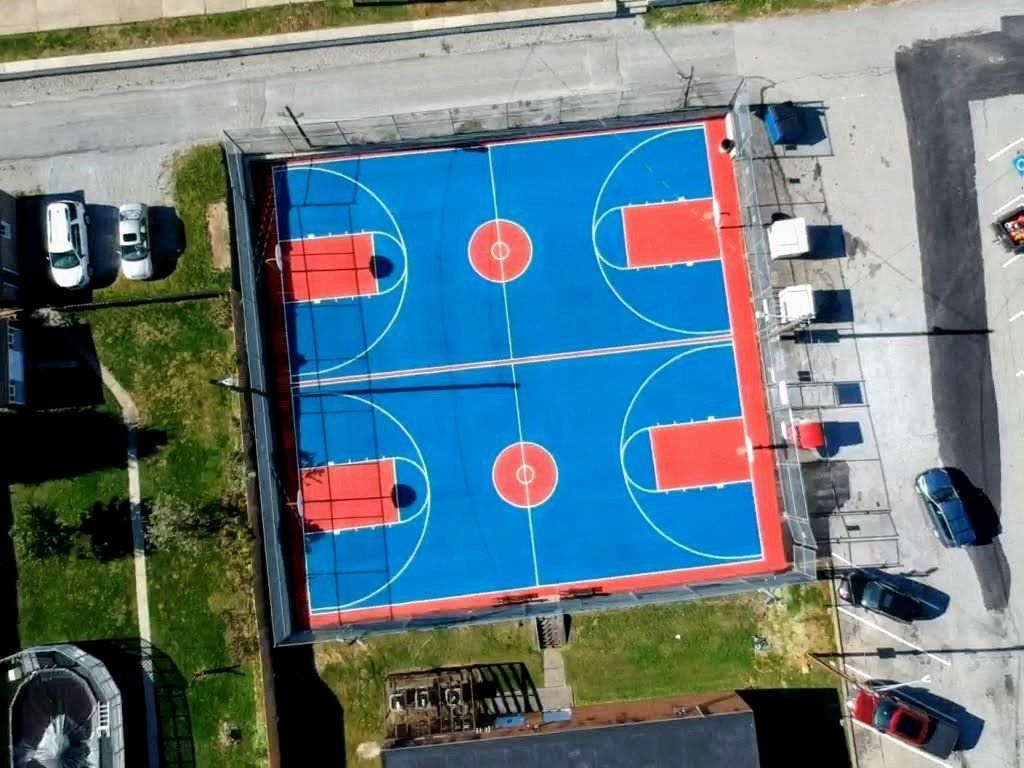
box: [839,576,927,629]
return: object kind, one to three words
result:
car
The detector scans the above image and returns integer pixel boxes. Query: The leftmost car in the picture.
[40,197,90,289]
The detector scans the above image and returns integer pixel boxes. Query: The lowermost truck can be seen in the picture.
[850,690,958,754]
